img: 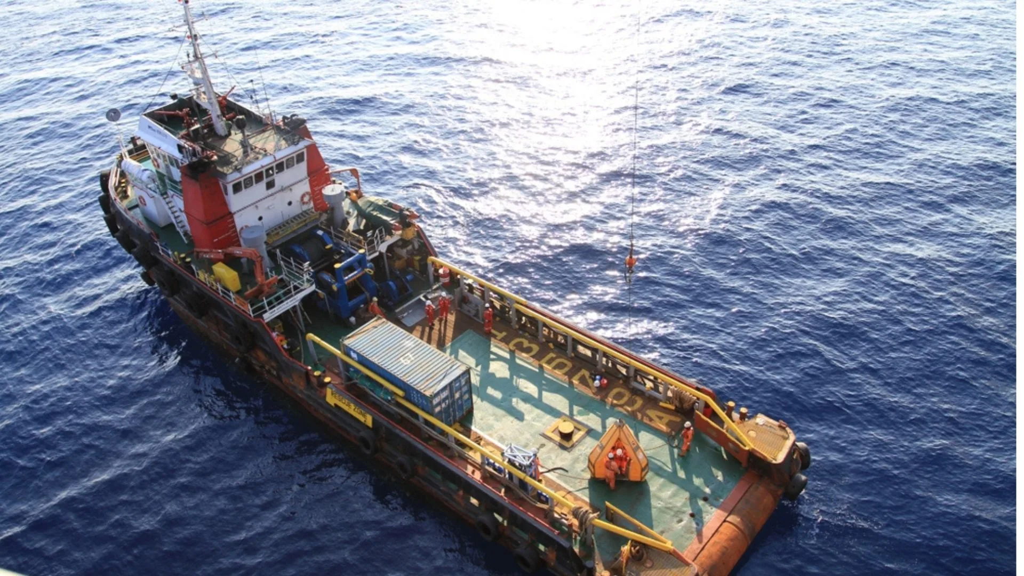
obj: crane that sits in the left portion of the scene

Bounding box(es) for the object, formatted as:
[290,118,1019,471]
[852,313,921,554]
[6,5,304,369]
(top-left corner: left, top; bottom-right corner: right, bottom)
[195,238,295,301]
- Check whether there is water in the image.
Yes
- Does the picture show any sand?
No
